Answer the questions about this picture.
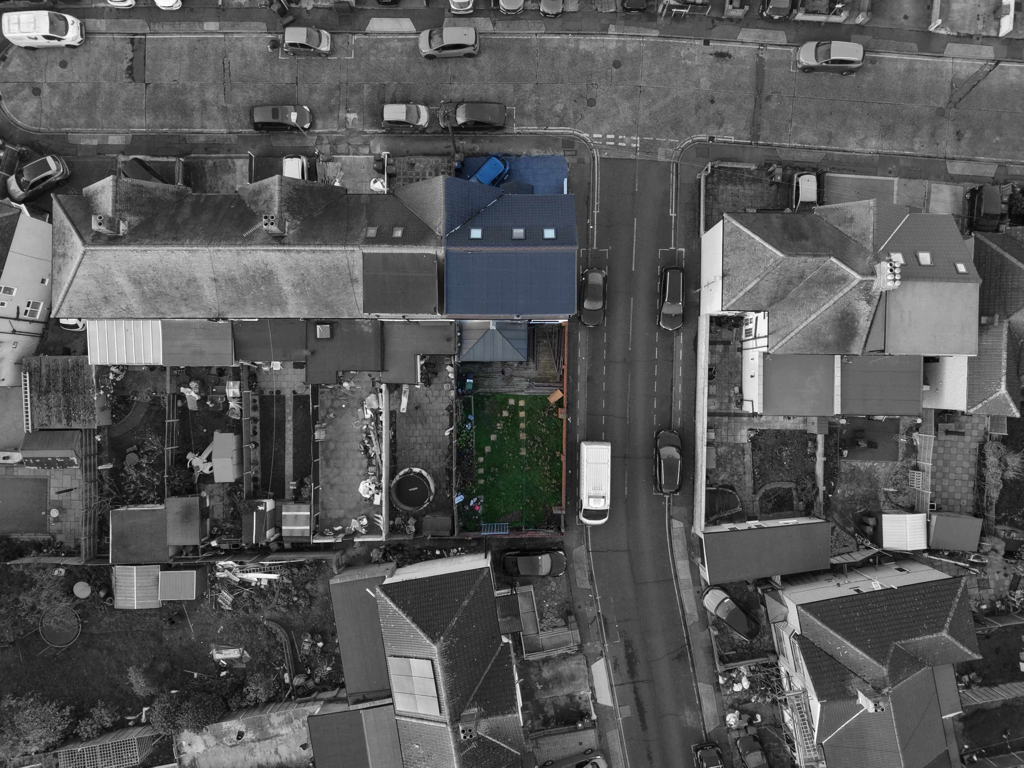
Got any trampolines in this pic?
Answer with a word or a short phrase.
Yes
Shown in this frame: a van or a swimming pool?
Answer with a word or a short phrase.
van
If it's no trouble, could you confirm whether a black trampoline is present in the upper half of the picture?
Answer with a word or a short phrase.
No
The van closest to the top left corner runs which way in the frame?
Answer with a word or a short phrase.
from left to right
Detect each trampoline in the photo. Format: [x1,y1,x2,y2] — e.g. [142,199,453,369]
[387,468,435,516]
[38,602,84,648]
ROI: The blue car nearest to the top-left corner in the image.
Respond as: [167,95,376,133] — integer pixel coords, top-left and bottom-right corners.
[460,149,512,186]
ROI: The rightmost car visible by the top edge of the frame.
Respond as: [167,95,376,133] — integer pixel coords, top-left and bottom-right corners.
[795,38,865,77]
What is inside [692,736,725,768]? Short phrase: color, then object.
black car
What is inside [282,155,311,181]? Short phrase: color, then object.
white car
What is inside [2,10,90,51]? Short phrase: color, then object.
white van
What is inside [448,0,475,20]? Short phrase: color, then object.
gray car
